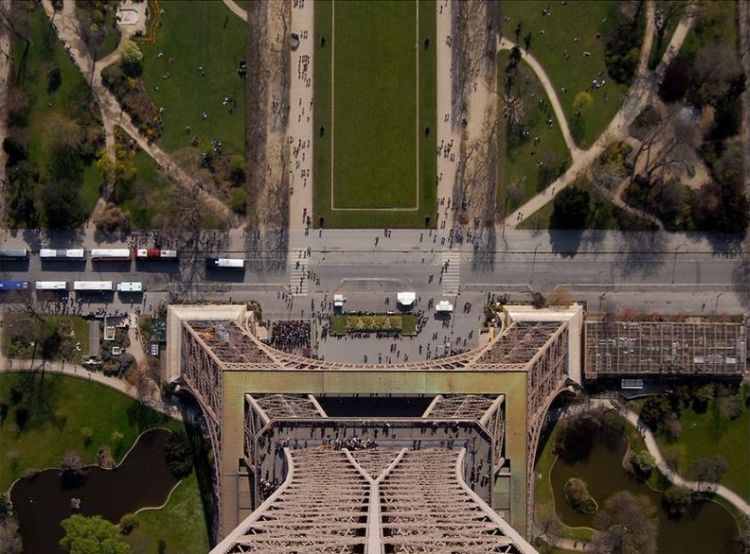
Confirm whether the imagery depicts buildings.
Yes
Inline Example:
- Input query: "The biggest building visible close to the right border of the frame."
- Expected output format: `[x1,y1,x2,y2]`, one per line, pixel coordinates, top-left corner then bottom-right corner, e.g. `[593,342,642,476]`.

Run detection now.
[582,322,746,380]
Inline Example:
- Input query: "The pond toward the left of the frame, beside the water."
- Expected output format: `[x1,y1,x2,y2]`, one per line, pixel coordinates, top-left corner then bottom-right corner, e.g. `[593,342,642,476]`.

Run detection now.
[9,428,188,554]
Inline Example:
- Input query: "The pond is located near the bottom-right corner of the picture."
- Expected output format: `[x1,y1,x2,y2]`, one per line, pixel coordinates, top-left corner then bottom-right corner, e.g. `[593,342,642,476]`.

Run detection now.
[551,418,740,554]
